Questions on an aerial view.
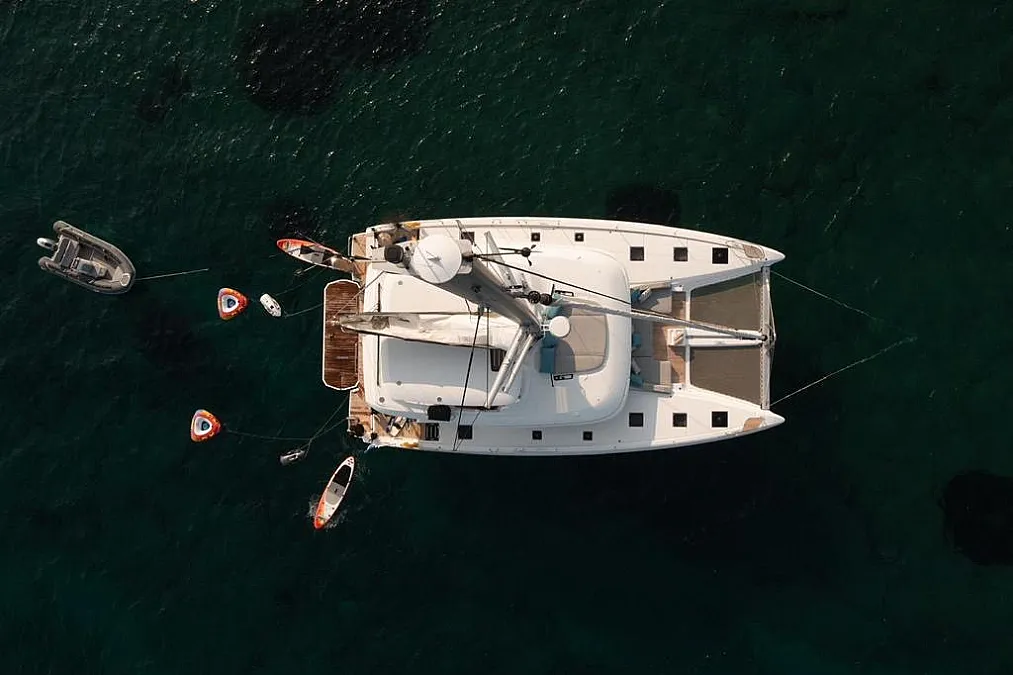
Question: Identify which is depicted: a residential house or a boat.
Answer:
boat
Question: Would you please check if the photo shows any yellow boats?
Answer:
No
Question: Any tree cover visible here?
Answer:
No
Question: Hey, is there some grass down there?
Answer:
No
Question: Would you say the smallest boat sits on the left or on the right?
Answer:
left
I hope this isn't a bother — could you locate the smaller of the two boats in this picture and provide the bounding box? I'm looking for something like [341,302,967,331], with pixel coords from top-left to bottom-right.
[37,219,138,292]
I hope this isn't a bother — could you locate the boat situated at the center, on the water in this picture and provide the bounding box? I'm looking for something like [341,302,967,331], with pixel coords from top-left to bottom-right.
[322,217,787,457]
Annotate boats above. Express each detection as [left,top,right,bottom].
[37,219,138,292]
[322,217,787,457]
